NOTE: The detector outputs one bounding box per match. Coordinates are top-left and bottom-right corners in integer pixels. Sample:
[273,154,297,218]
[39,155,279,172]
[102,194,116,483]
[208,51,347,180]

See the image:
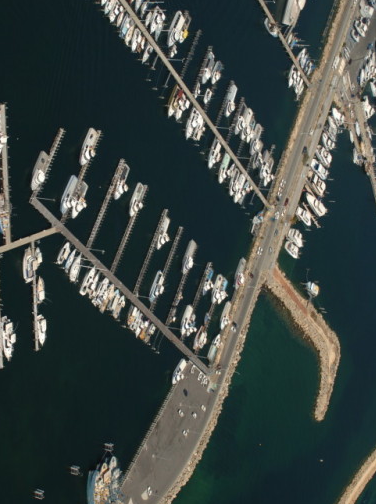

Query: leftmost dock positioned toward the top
[0,103,14,246]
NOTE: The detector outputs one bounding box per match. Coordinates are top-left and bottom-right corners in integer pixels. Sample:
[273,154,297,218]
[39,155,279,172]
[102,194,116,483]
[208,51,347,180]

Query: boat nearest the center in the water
[183,239,199,273]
